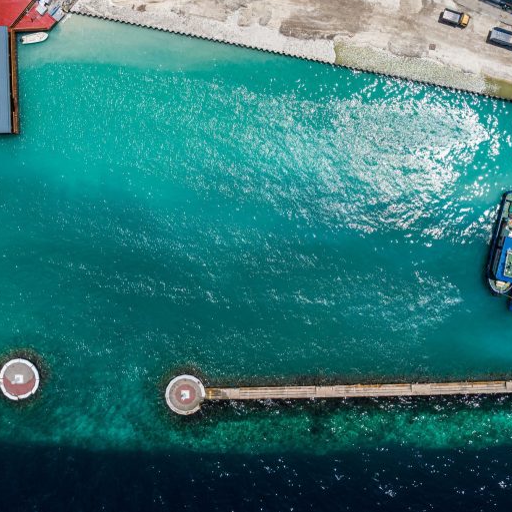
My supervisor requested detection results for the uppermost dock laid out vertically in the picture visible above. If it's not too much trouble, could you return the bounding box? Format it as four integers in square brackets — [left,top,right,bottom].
[0,31,23,135]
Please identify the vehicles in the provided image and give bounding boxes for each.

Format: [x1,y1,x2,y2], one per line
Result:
[438,6,472,26]
[488,24,512,45]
